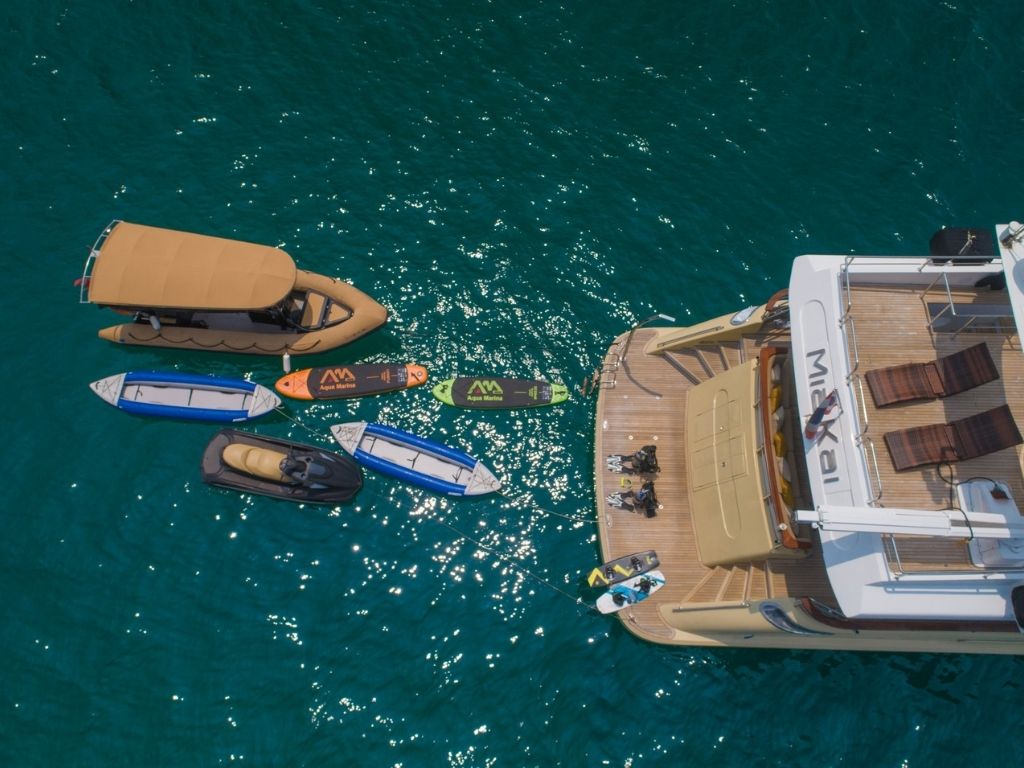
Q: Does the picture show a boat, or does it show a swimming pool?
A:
boat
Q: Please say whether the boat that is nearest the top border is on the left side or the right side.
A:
left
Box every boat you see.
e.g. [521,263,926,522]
[74,222,388,354]
[331,420,500,492]
[89,370,283,419]
[199,430,365,506]
[581,222,1024,656]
